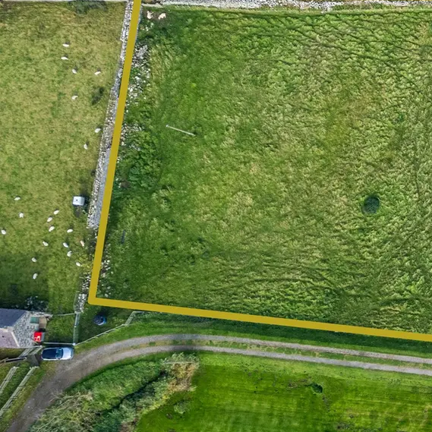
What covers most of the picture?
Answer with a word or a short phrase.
grass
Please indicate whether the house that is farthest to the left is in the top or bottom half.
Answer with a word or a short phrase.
bottom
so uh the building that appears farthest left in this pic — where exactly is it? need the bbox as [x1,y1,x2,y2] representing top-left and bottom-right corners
[0,303,37,344]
